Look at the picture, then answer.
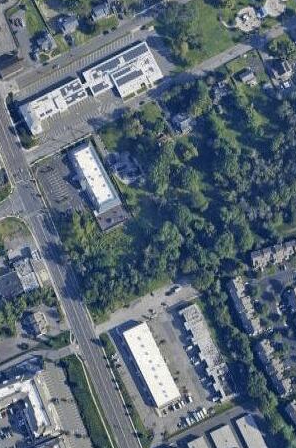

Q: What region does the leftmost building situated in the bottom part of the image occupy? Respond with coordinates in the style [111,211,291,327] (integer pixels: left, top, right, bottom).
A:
[0,271,24,300]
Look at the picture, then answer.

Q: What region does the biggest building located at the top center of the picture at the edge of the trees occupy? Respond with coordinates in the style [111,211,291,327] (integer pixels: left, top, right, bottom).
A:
[83,42,164,101]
